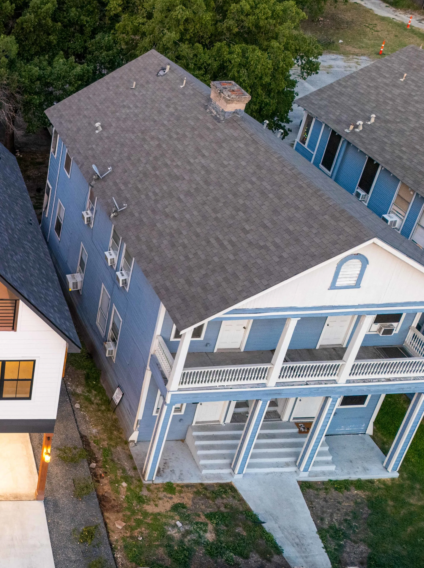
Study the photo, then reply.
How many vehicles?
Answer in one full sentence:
I count no vehicles.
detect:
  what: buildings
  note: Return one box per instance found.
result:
[43,49,424,487]
[0,142,85,502]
